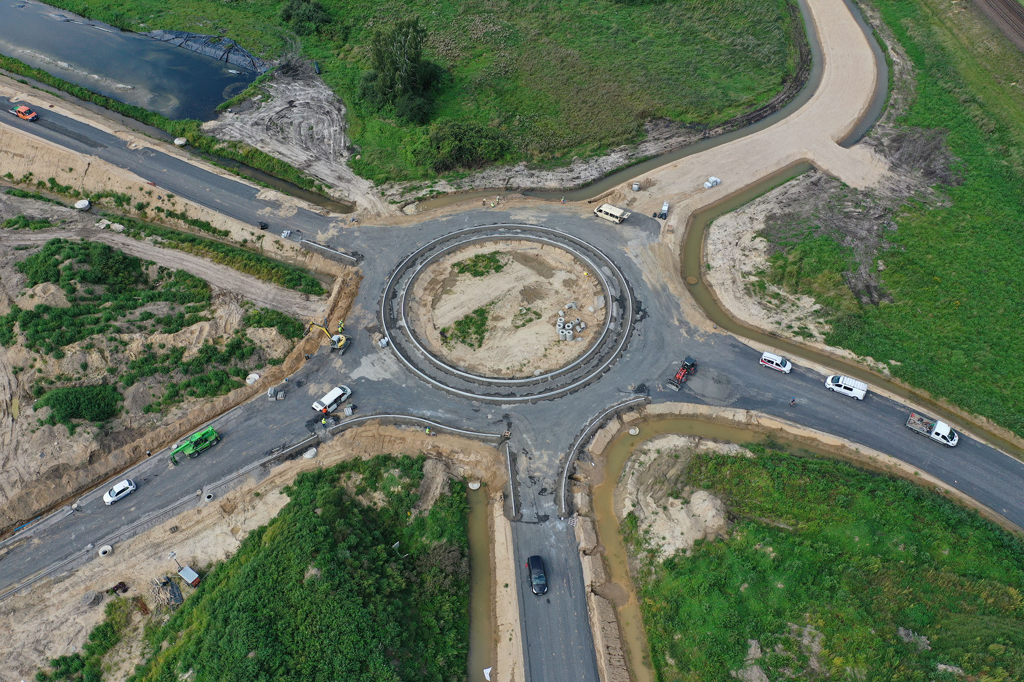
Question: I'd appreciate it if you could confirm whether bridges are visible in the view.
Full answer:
No, no bridge is visible in the view.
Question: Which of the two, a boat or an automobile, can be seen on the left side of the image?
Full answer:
What appears on the left side of the image is an automobile.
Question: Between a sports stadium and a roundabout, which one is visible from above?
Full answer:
The image shows a roundabout.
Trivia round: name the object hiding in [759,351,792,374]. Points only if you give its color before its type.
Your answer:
white car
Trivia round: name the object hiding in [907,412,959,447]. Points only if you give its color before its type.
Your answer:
white truck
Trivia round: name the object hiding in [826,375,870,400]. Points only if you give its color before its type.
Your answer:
white vehicle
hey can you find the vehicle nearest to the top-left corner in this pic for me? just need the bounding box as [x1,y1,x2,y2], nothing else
[8,102,40,121]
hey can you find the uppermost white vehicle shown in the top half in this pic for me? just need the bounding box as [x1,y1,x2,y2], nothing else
[592,200,634,224]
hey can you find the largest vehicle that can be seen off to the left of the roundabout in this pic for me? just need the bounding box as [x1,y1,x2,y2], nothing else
[161,423,220,470]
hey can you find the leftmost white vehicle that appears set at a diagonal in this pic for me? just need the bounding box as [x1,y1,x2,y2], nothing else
[103,480,136,505]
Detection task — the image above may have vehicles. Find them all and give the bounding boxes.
[8,102,40,121]
[103,480,136,505]
[592,200,634,224]
[907,412,959,447]
[161,423,220,470]
[826,375,870,400]
[310,319,350,356]
[527,556,549,595]
[666,361,691,391]
[759,351,792,374]
[313,386,352,412]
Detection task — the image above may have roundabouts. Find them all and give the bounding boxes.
[296,206,727,477]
